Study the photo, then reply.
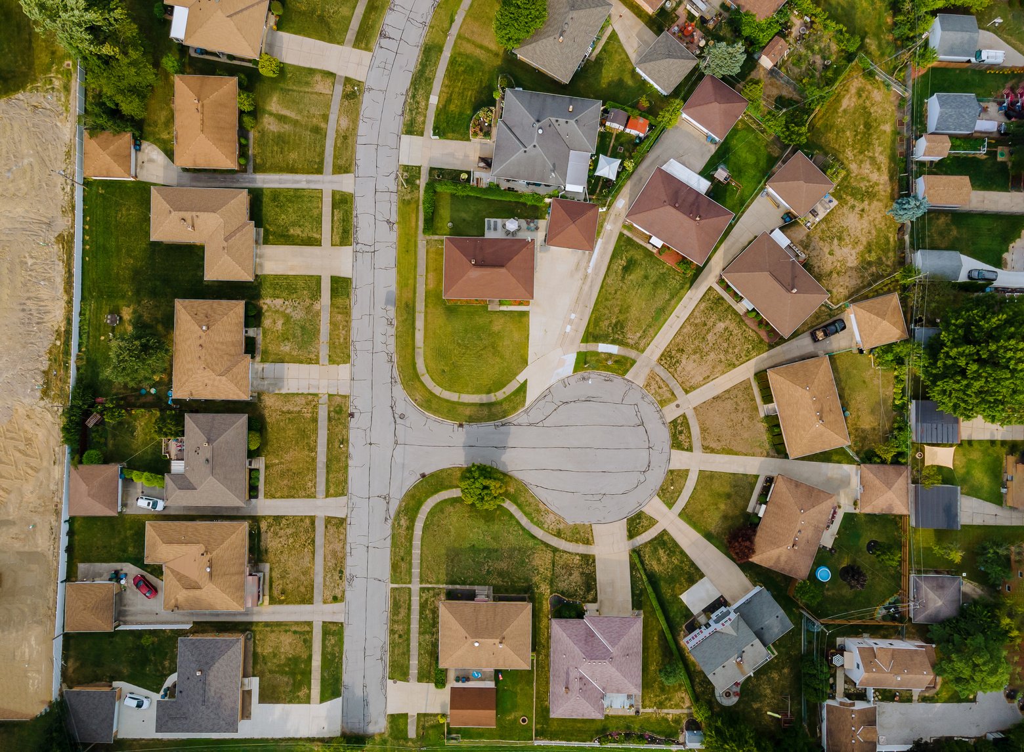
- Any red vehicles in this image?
Yes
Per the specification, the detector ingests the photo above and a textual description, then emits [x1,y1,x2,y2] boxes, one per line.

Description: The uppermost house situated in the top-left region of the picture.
[162,0,273,62]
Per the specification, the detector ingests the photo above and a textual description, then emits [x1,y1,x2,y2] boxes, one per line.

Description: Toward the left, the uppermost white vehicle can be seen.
[132,496,164,512]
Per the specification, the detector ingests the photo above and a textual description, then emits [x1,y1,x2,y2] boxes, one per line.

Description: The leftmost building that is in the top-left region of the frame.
[83,130,137,179]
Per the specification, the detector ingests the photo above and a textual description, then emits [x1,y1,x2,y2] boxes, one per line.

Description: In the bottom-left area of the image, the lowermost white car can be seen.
[120,694,150,712]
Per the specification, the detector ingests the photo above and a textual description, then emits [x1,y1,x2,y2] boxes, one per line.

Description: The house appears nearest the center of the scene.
[443,237,535,301]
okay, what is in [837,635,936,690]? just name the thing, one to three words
house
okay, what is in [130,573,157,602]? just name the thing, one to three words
car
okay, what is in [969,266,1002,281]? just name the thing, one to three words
car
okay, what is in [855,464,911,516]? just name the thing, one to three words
building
